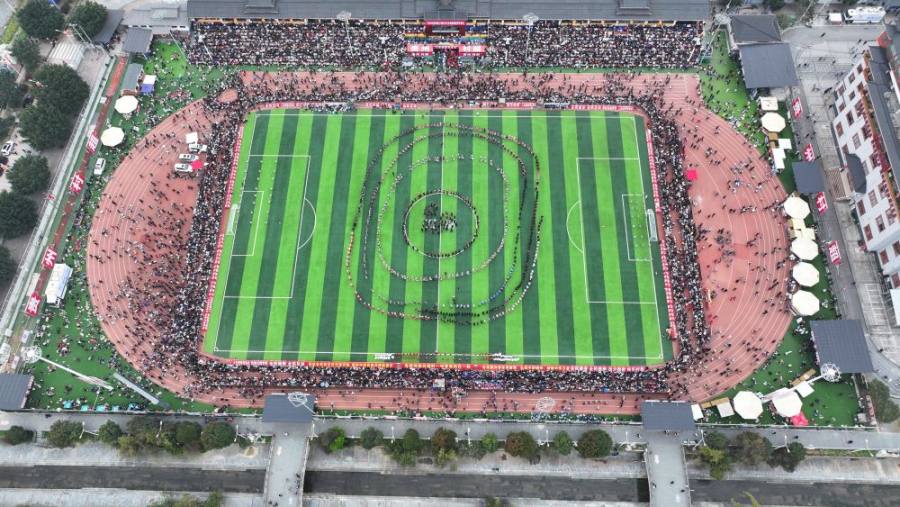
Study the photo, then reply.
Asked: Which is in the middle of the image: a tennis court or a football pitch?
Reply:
football pitch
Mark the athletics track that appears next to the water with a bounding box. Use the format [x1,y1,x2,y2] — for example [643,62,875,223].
[87,71,794,415]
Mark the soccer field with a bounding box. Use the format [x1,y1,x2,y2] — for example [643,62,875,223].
[199,109,679,366]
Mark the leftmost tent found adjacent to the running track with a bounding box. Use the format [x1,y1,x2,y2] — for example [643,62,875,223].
[45,264,76,303]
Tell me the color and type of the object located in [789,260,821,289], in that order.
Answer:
white umbrella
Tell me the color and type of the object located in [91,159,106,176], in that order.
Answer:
white car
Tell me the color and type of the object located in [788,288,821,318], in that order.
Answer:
white umbrella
